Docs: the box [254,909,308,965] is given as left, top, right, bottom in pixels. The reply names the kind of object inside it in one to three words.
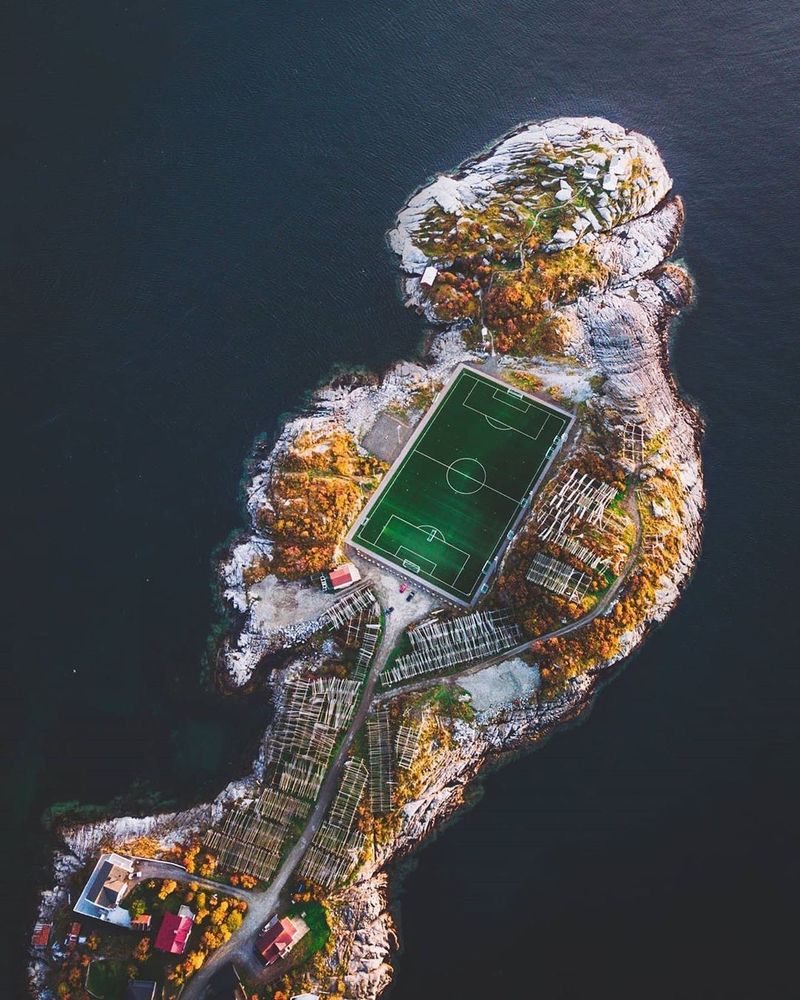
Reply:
house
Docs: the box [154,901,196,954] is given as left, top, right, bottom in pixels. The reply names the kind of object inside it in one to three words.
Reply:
house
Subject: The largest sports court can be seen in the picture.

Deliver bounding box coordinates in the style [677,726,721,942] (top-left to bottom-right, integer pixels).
[361,412,410,464]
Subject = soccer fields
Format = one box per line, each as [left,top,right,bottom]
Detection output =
[346,363,575,607]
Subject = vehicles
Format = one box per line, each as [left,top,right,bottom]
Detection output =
[406,591,415,601]
[385,606,395,615]
[400,583,408,593]
[130,871,143,879]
